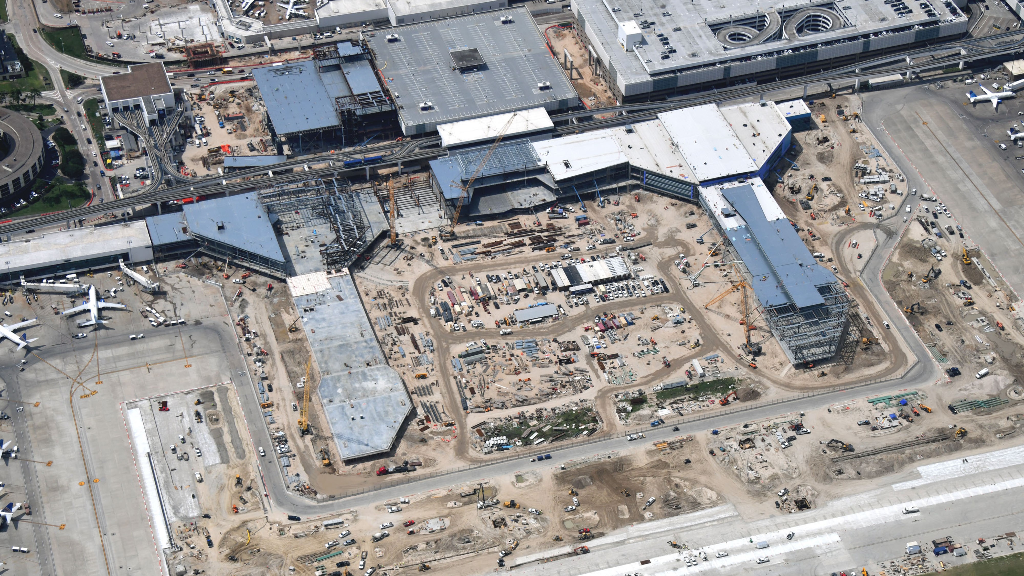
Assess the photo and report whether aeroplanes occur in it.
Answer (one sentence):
Yes, you can see an aeroplane in this photo.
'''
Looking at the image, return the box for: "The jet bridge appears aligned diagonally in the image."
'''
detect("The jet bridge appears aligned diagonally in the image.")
[118,258,157,292]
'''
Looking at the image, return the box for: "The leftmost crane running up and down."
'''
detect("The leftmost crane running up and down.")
[295,354,315,441]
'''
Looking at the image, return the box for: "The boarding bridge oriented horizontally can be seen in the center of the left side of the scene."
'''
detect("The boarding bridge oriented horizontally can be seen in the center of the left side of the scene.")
[19,275,88,297]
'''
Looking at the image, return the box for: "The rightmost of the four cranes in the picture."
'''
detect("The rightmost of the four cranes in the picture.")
[705,278,761,356]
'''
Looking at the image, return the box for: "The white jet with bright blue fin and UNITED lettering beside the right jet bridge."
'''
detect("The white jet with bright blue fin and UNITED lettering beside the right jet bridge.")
[963,79,1015,106]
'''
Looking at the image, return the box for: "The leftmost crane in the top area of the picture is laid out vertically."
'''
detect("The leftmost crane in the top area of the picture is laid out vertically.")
[383,178,405,250]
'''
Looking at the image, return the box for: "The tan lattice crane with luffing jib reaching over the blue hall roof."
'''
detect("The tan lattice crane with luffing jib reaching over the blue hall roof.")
[431,114,517,242]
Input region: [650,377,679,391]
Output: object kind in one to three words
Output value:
vehicle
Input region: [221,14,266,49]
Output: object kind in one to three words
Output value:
building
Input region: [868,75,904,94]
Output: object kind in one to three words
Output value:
shed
